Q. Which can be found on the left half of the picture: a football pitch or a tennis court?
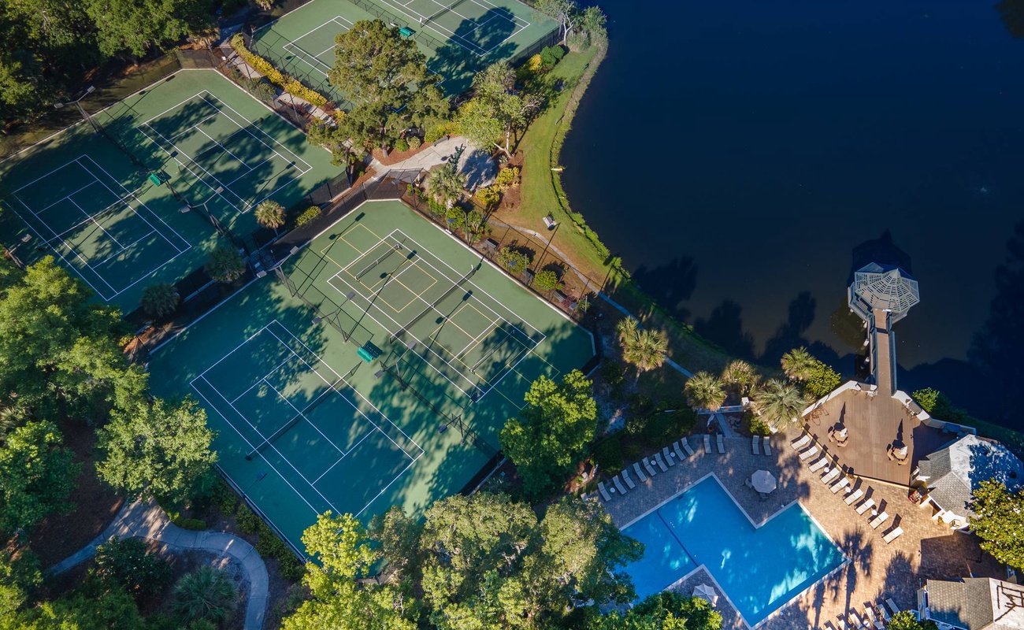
tennis court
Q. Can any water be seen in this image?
Yes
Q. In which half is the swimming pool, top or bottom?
bottom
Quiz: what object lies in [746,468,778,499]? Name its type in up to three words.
umbrella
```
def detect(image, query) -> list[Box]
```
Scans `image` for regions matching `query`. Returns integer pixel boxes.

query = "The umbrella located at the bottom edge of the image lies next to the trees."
[691,578,721,610]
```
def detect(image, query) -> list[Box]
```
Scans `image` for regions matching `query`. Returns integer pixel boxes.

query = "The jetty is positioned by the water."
[869,311,899,399]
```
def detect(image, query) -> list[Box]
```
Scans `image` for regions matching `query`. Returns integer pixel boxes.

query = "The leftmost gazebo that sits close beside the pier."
[838,261,920,333]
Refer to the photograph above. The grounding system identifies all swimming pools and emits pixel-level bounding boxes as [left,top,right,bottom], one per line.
[614,468,860,630]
